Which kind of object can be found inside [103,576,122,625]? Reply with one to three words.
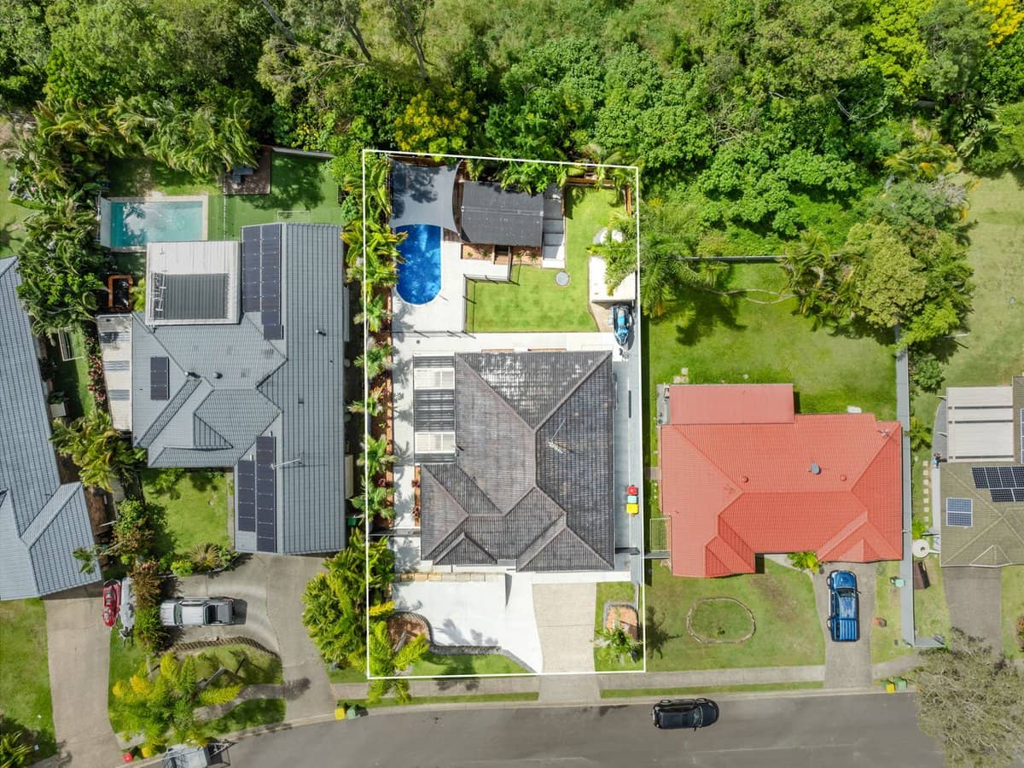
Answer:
boat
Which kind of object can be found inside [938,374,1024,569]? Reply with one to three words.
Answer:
house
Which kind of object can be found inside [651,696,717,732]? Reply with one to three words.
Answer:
car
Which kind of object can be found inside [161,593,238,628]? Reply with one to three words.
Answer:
truck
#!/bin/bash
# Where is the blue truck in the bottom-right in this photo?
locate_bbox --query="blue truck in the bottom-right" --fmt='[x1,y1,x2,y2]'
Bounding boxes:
[823,567,860,643]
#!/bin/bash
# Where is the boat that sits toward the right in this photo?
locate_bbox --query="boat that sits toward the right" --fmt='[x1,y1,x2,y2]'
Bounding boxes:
[613,303,631,350]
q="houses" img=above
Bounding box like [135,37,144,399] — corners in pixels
[420,350,616,574]
[938,374,1024,569]
[129,221,345,555]
[0,257,114,608]
[661,383,903,578]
